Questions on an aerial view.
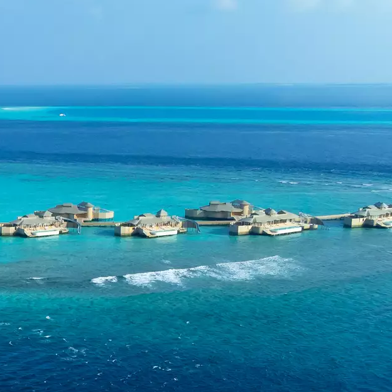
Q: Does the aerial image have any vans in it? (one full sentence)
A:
No, the scene contains no van.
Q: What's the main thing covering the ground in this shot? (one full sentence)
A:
What you mostly see from above here is water.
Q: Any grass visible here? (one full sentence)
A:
No, grass can't be seen anywhere here.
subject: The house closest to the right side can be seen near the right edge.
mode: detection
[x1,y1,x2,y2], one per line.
[339,201,392,228]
